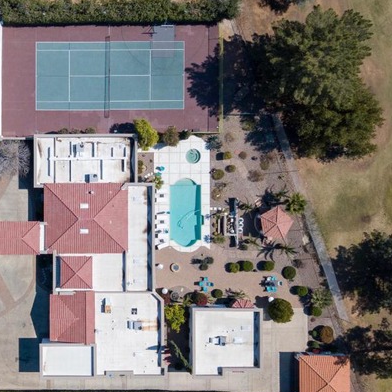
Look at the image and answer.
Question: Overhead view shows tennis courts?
Yes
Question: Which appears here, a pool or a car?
pool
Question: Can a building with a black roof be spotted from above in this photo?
No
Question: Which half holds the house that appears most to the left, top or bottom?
bottom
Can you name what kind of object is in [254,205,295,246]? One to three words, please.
gazebo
